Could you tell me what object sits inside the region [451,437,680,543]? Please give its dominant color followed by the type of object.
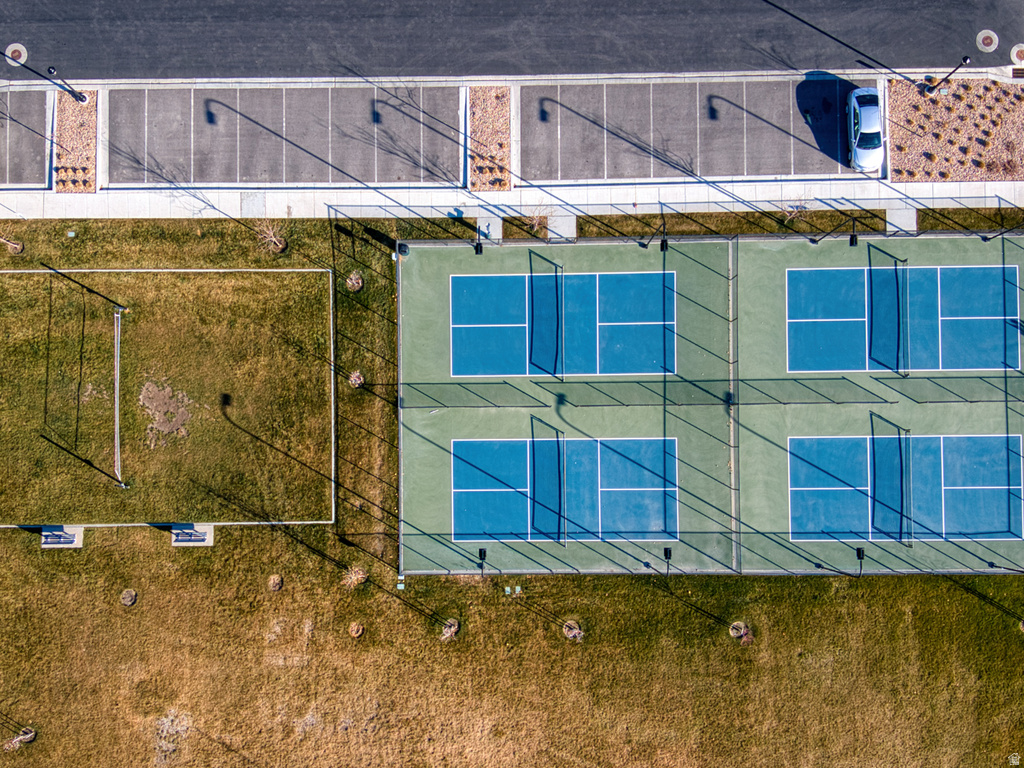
blue sports court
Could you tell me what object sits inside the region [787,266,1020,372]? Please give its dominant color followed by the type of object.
blue sports court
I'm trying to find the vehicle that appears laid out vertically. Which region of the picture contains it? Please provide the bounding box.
[847,88,890,172]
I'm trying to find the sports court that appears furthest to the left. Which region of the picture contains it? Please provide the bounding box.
[0,267,334,527]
